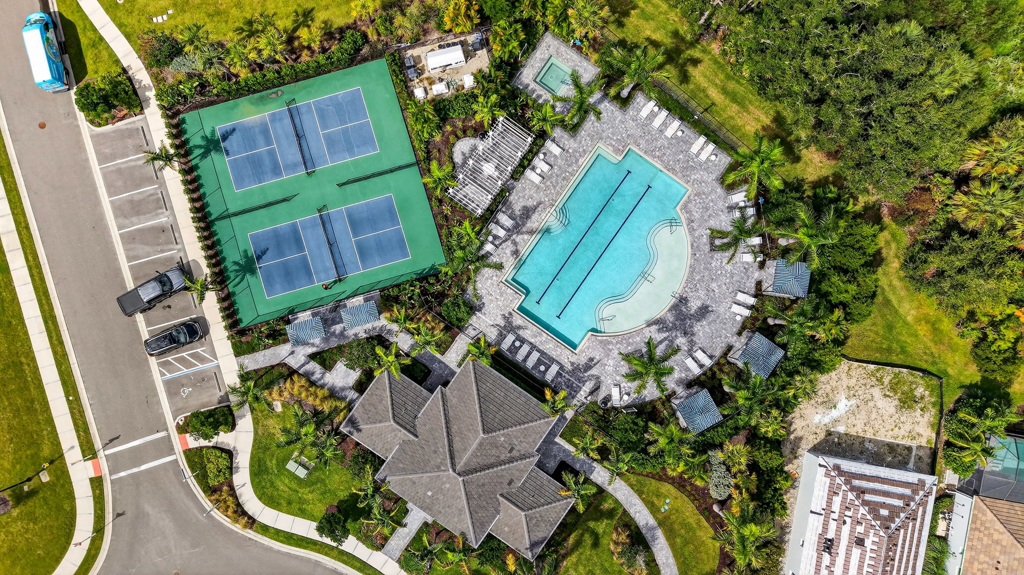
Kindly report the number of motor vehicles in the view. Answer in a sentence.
My tally gives 3 motor vehicles in this view.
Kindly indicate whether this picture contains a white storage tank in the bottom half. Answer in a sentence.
No, no white storage tank can be made out in the bottom half.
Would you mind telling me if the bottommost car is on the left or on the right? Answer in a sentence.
The bottommost car sits on the left side.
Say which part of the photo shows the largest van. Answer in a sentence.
The largest van appears toward the top left of the photo.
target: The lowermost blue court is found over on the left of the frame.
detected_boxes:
[248,194,411,299]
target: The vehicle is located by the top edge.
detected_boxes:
[24,12,71,93]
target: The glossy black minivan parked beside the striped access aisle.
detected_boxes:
[143,322,205,360]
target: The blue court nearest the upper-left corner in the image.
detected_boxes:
[217,87,379,192]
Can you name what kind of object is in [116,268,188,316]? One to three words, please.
truck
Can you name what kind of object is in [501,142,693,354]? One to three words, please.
swimming pool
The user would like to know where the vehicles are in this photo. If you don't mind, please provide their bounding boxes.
[24,12,71,93]
[116,268,188,316]
[143,322,205,360]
